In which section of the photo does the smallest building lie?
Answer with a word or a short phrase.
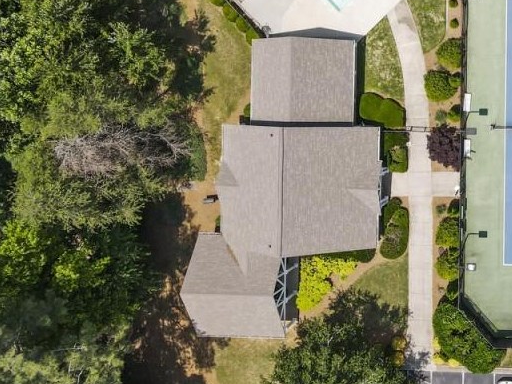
top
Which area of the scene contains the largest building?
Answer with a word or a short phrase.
center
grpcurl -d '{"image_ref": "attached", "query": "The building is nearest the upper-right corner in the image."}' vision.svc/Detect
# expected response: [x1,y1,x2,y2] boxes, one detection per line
[251,37,358,122]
